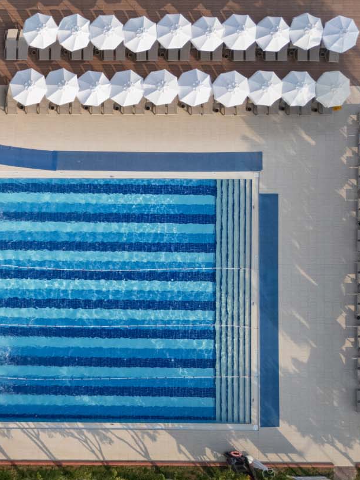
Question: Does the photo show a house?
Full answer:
No, there's no house here.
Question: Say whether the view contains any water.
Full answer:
Yes, some water is visible.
